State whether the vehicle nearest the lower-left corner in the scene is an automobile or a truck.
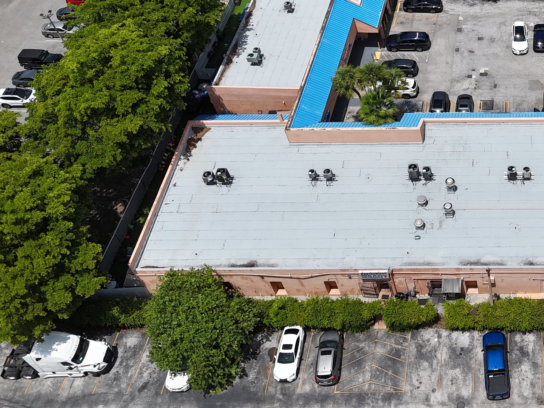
truck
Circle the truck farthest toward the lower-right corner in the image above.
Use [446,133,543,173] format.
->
[480,329,512,404]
